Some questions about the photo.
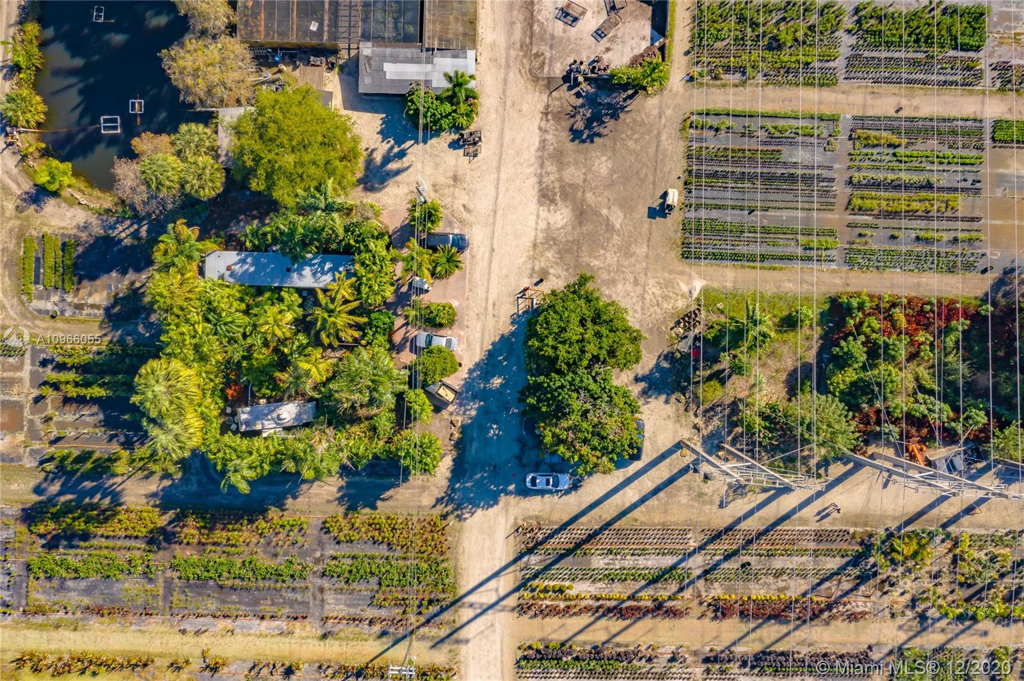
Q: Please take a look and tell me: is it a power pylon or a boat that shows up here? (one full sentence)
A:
Visible in the photo is a power pylon.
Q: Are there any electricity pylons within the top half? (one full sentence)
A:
No, looking within the top half, there is no electricity pylon.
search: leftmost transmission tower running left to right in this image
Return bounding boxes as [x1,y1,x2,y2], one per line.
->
[677,438,826,487]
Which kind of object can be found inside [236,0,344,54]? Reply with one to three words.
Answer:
house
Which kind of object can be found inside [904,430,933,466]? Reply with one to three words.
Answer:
work vehicle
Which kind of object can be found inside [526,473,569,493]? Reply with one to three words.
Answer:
car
